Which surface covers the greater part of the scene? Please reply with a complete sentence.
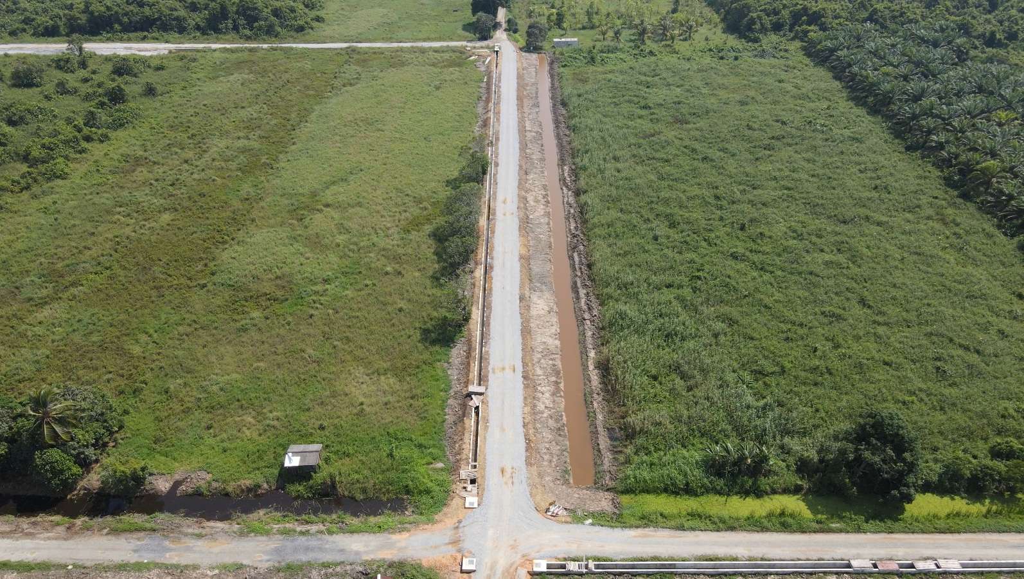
What you mostly see from above here is grass.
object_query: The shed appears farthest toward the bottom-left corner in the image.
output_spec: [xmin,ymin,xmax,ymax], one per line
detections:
[284,443,327,479]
